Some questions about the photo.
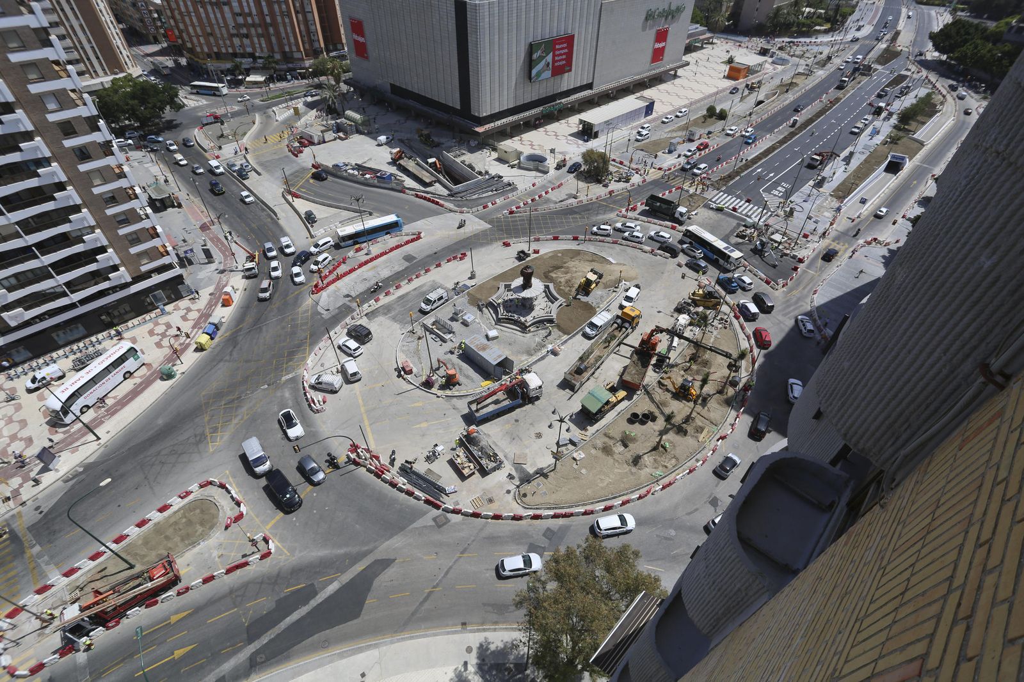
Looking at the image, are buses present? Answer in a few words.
Yes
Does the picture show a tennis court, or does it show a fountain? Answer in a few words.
fountain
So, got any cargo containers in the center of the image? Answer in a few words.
Yes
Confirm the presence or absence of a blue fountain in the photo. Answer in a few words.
No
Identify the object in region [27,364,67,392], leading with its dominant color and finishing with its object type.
white van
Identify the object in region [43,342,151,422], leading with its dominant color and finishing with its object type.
white bus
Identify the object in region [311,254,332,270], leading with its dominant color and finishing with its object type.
white car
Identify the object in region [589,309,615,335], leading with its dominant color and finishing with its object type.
white vehicle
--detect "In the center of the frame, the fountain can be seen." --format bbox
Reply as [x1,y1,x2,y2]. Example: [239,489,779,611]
[479,264,559,332]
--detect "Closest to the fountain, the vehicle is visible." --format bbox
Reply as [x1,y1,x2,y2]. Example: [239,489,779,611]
[516,248,533,263]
